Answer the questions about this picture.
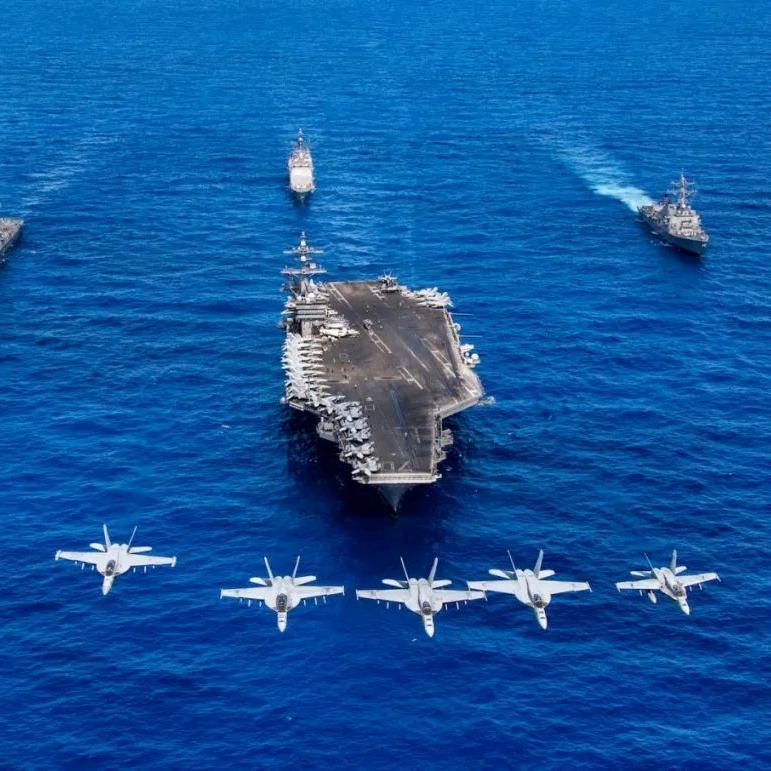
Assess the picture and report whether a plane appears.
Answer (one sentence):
Yes, looking at the shot, I can spot a plane.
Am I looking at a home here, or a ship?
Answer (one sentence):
Of the two, only a ship appears.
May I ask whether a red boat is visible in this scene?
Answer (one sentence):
No, there is no red boat in the image.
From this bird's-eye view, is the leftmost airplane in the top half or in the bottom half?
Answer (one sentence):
The leftmost airplane is in the bottom half of the image.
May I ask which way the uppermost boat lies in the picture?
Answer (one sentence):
What the image shows is the uppermost boat lying up and down.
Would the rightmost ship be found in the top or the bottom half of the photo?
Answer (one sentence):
The rightmost ship sits in the top half of the picture.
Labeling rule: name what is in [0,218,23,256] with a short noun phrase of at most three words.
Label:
ship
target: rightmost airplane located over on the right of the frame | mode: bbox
[615,547,721,616]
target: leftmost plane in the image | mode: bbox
[56,521,175,595]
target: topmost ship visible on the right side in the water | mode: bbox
[644,166,710,258]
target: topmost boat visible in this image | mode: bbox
[285,131,316,207]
